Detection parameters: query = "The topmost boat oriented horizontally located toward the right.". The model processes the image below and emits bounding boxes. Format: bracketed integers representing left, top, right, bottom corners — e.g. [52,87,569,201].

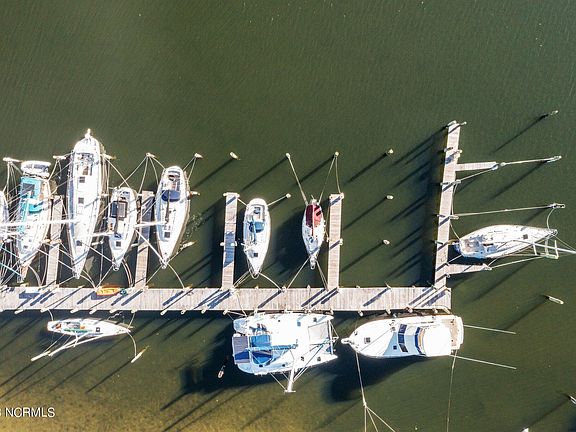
[454,225,576,259]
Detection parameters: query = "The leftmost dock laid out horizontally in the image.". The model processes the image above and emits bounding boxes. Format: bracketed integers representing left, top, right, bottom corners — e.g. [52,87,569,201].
[0,284,454,314]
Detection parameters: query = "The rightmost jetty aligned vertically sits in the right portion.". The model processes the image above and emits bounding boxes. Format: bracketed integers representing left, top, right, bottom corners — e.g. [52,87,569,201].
[433,122,467,287]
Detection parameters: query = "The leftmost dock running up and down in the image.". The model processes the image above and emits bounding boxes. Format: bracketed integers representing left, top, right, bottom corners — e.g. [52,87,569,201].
[43,196,66,287]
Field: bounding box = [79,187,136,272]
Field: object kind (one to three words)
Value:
boat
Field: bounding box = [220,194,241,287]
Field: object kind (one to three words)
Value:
pier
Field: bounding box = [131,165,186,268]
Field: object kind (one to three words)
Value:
boat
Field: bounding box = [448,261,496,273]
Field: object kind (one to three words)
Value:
pier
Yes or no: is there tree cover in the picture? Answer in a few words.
No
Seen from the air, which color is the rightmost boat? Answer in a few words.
white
